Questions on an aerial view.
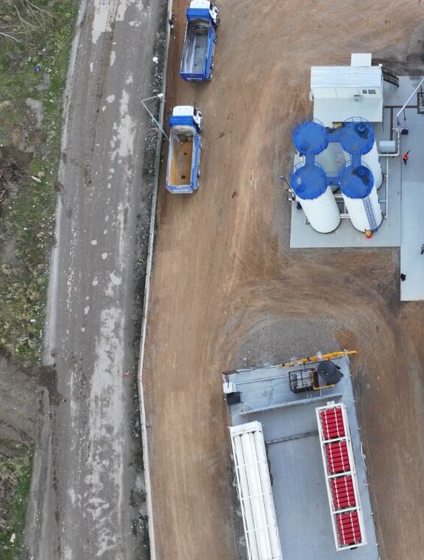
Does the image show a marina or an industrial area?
industrial area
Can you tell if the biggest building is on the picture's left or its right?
right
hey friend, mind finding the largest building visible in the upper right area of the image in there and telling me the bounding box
[311,53,386,132]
